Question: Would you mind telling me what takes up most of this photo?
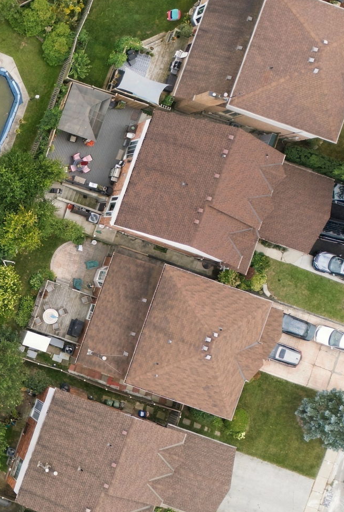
buildings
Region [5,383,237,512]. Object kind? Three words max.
house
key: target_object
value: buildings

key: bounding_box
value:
[96,107,336,274]
[70,251,284,421]
[165,0,344,146]
[5,383,237,512]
